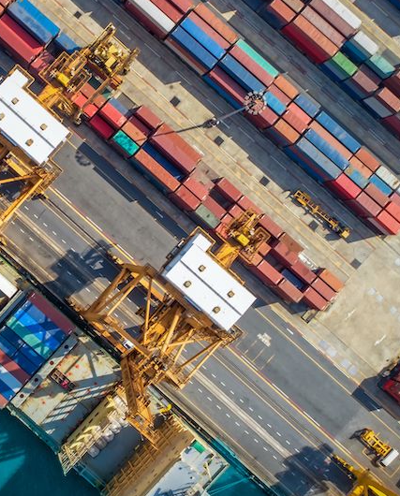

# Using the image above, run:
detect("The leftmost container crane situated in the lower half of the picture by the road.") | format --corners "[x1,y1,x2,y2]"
[64,211,276,454]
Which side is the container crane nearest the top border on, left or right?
left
